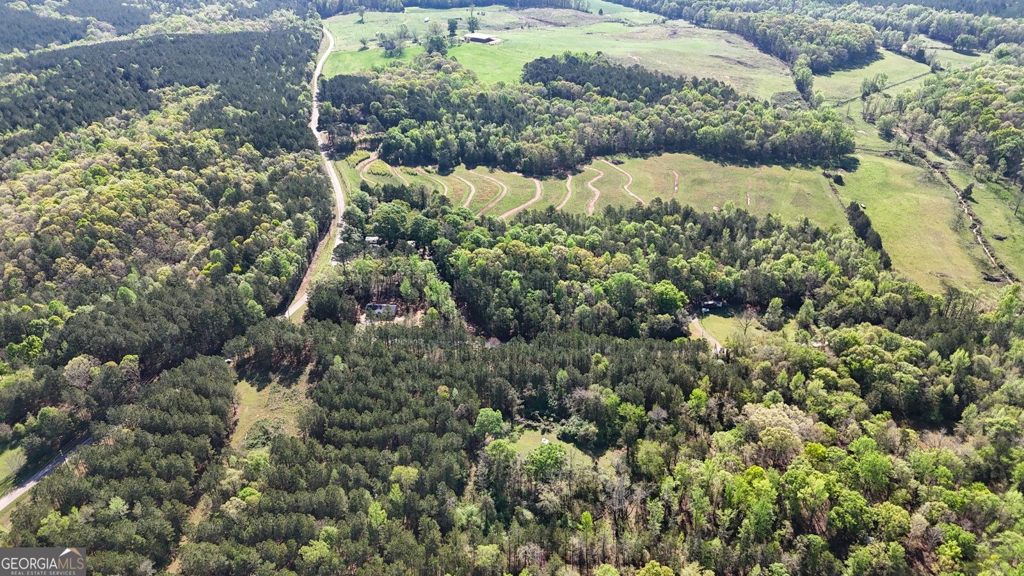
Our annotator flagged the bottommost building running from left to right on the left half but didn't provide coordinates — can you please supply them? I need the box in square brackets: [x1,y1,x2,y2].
[365,304,399,320]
